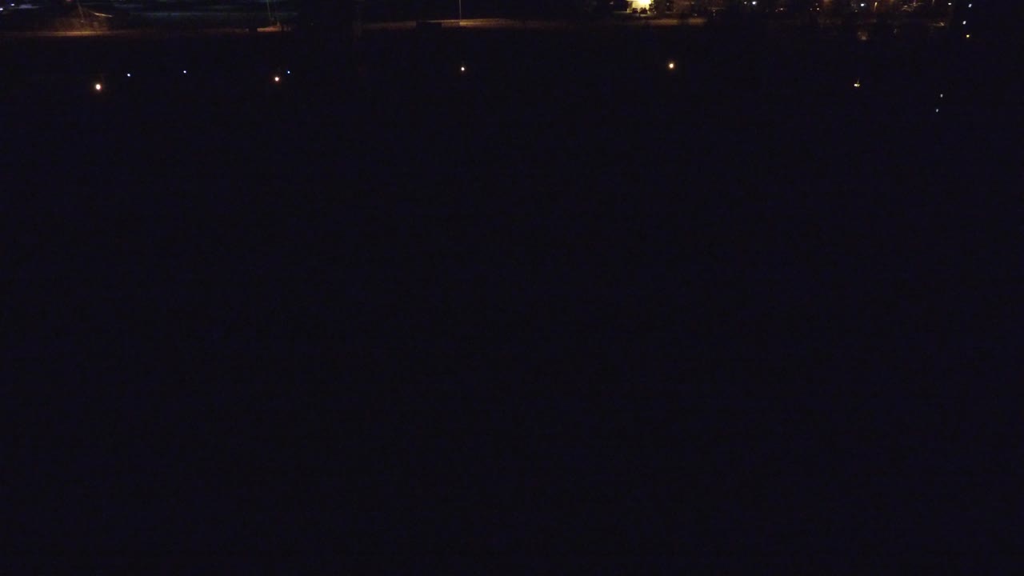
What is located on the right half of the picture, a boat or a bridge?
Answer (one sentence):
It is a boat that can be seen on the right half of the picture.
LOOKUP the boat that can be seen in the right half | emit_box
[929,4,977,63]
